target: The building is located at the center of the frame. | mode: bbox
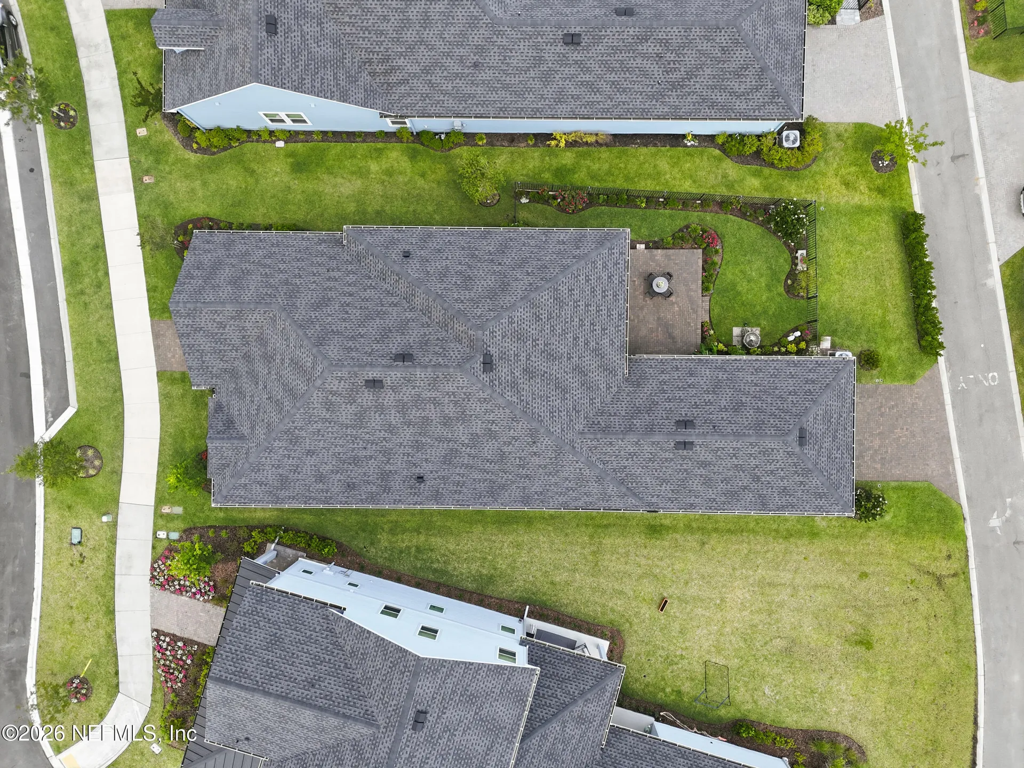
[170,225,858,516]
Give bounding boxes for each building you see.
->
[170,225,858,516]
[150,0,808,139]
[179,533,793,768]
